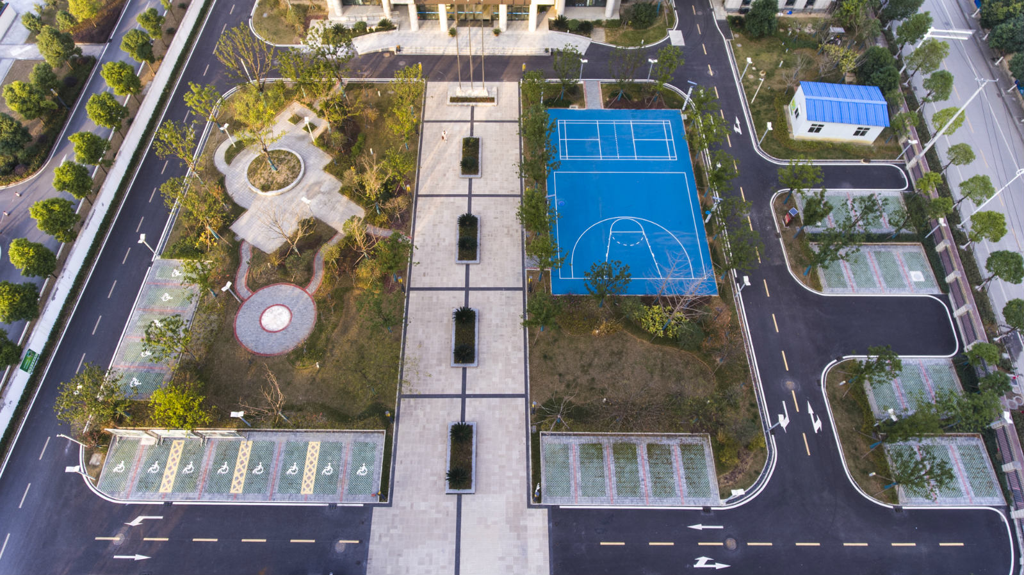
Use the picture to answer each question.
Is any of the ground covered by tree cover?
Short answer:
Yes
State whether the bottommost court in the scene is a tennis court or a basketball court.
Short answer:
basketball court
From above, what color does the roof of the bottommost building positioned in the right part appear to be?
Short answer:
blue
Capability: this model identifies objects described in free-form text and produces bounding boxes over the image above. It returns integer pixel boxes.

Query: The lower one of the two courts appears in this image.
[547,162,721,296]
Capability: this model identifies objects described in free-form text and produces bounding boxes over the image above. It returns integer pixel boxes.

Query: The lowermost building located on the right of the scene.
[781,82,888,143]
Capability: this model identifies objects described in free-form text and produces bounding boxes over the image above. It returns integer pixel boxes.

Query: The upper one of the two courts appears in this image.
[544,106,694,165]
